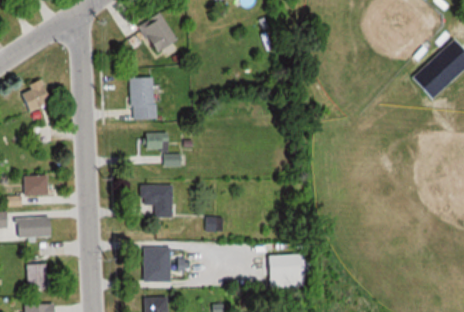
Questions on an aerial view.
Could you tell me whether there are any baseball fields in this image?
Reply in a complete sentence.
Yes, the image includes a baseball field.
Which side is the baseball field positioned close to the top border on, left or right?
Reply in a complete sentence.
The baseball field positioned close to the top border is on the right side of the image.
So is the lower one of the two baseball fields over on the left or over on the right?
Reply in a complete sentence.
The lower one of the two baseball fields sits on the right side.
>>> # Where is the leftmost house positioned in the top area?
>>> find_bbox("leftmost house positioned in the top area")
[24,81,50,112]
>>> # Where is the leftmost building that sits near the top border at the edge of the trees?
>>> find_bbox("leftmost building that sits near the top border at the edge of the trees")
[139,15,176,52]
